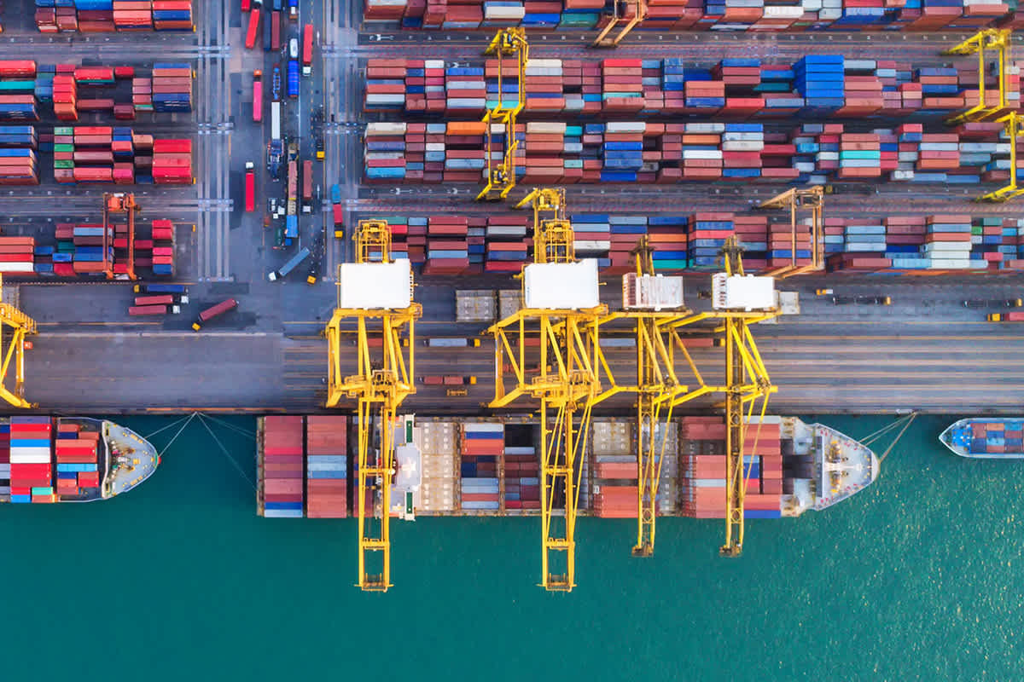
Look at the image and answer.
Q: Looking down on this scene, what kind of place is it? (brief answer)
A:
port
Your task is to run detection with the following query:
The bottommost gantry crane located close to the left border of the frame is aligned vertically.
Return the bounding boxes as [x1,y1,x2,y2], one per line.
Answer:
[0,256,41,409]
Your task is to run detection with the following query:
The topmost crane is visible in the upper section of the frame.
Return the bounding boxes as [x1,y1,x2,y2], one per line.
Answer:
[592,0,645,44]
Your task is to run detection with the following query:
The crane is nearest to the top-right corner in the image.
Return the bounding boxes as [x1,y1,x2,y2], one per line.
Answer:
[941,26,1011,125]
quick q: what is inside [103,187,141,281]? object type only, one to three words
crane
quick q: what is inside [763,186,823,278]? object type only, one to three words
crane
